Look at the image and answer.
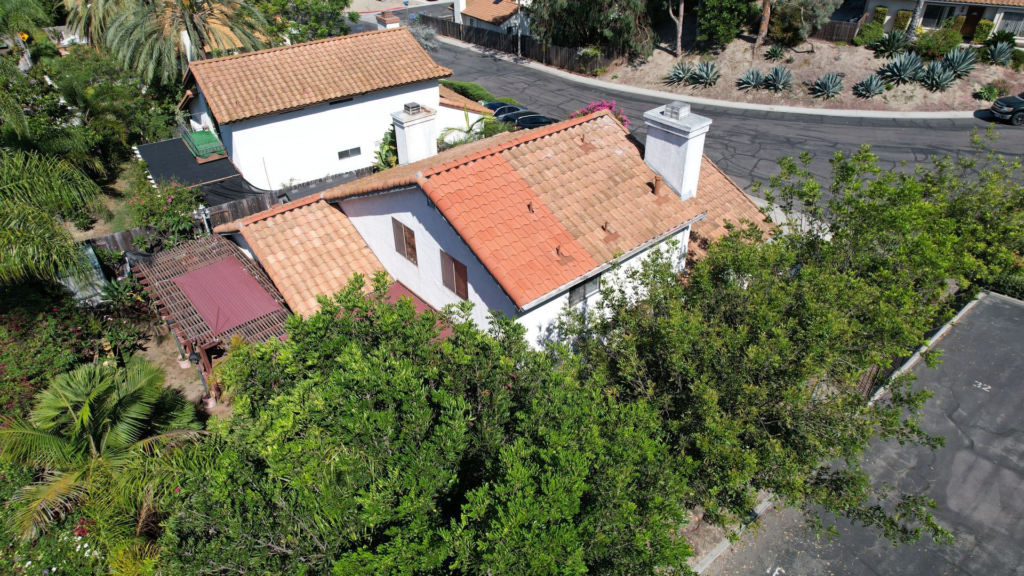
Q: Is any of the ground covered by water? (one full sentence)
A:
No, the picture contains no water.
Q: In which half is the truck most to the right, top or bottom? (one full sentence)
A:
The truck most to the right is in the top half of the image.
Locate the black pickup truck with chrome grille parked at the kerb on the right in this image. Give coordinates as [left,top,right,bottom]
[985,93,1024,126]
